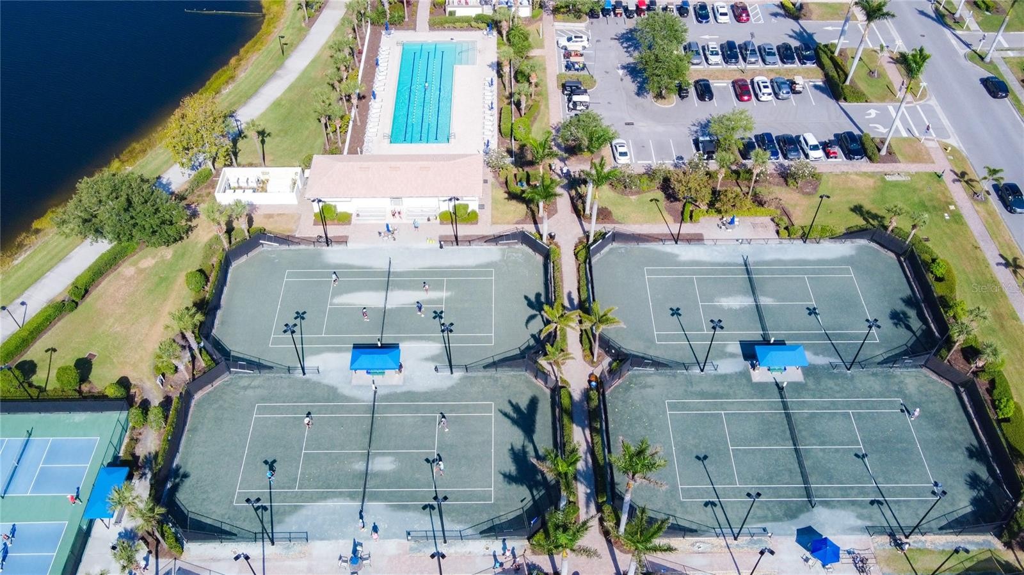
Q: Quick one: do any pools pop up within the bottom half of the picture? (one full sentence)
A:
No, the scene shows no pool within the bottom half of the picture.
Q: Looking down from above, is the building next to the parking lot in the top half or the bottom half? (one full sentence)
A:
Seen from above, the building next to the parking lot lies in the top half of the view.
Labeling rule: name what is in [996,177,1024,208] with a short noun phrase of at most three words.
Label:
car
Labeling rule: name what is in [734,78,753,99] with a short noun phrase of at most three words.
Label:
car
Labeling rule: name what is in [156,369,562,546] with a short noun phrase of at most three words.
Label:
tennis court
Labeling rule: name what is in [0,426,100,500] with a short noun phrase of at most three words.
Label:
sports court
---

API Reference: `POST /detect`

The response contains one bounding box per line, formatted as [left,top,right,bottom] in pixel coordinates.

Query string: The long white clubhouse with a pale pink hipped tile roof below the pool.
[304,154,483,212]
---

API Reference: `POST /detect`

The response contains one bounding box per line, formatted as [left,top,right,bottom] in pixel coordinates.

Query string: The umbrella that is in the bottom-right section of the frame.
[815,530,846,560]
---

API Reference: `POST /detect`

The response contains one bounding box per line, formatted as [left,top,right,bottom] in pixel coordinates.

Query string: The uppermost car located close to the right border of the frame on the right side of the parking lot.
[982,74,1014,95]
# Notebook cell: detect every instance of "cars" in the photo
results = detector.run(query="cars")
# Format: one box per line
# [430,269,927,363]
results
[742,39,761,62]
[704,39,722,63]
[773,76,792,97]
[776,42,794,62]
[755,78,774,99]
[781,130,804,158]
[801,130,824,158]
[714,3,730,21]
[737,129,758,157]
[996,177,1024,208]
[696,77,714,99]
[733,0,751,19]
[723,39,741,62]
[558,33,590,49]
[760,42,778,63]
[686,39,704,63]
[695,2,711,21]
[612,137,629,161]
[734,78,753,99]
[760,129,781,157]
[794,39,814,63]
[841,129,865,157]
[982,74,1014,95]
